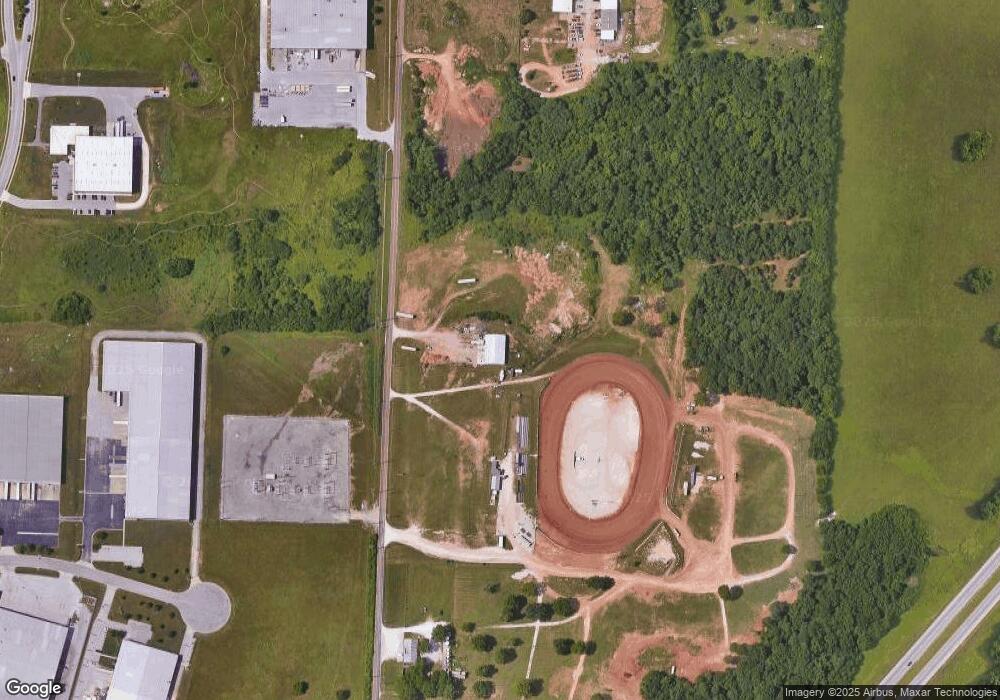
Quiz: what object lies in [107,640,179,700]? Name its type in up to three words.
building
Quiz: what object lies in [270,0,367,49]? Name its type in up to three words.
building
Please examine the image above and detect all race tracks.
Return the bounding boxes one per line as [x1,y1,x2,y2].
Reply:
[537,351,674,556]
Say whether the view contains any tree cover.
Yes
